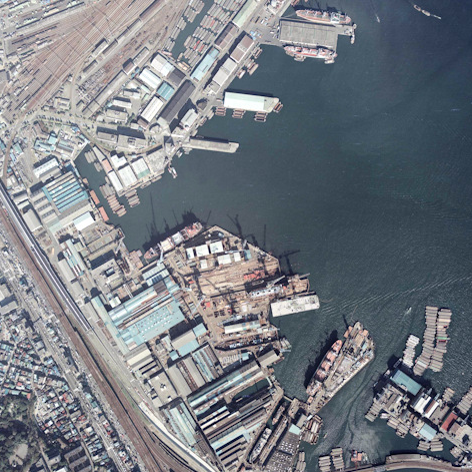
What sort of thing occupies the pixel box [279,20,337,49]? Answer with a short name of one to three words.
building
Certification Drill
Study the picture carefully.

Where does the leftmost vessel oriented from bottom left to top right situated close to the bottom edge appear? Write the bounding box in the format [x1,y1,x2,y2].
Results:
[248,429,270,463]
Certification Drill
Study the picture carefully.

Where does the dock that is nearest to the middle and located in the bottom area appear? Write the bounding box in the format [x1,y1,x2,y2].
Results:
[271,295,320,316]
